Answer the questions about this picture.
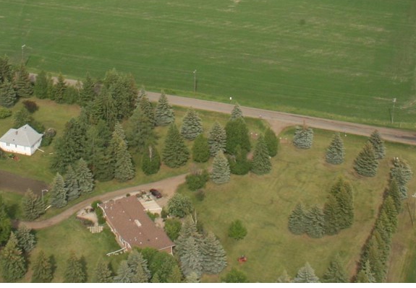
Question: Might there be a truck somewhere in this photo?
No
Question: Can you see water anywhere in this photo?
No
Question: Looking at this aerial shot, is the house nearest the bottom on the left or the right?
left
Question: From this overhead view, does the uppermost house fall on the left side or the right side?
left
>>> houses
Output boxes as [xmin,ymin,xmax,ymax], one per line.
[0,122,47,155]
[95,193,171,260]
